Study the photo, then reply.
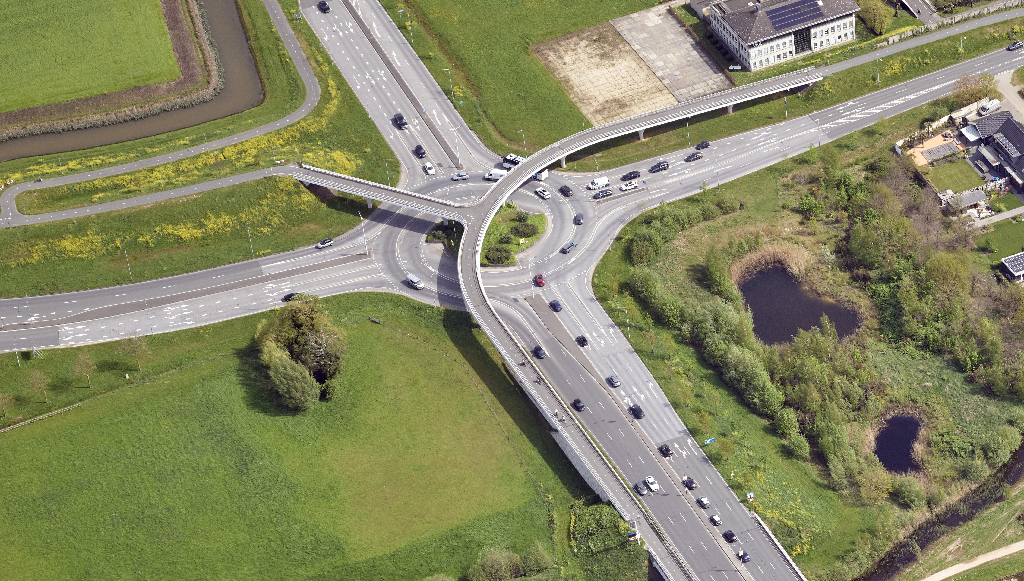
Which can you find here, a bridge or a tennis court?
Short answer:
bridge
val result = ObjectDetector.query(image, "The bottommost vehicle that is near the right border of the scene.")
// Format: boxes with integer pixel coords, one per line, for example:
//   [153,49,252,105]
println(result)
[978,96,1002,116]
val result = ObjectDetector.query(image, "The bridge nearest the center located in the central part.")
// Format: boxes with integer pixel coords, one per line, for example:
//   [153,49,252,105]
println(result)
[297,68,810,523]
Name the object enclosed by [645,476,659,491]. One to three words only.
car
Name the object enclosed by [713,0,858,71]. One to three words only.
building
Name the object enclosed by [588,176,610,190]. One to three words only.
vehicle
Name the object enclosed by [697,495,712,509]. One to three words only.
car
